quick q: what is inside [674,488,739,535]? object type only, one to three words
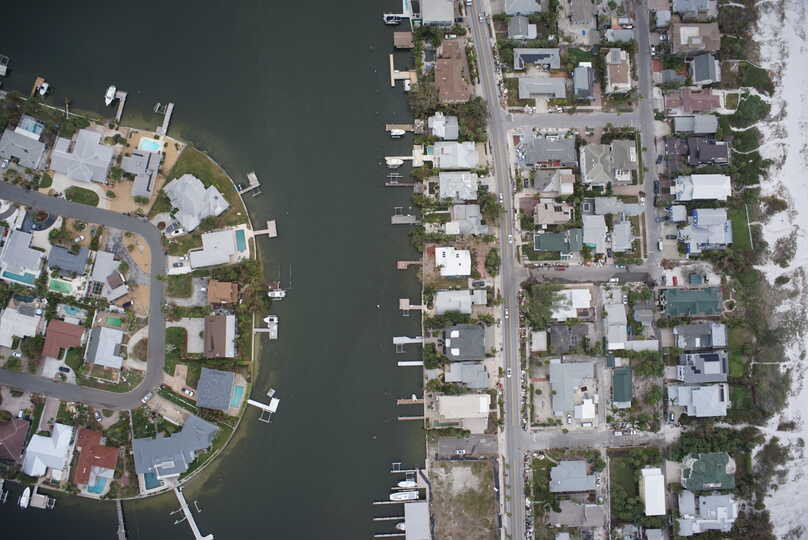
house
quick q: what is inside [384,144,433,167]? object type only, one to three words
pier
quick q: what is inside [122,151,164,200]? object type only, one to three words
house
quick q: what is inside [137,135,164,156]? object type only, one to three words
swimming pool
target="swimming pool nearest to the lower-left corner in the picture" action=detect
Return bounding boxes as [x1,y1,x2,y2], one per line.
[80,477,112,497]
